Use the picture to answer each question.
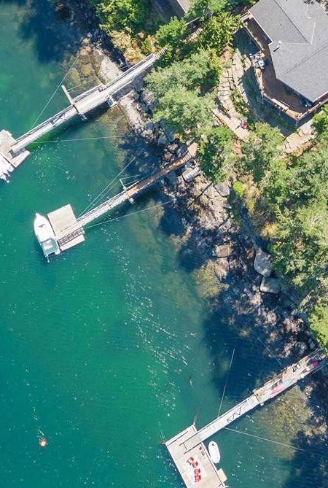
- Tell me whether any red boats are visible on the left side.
No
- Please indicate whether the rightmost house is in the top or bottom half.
top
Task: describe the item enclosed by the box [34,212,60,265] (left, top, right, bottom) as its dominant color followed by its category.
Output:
white boat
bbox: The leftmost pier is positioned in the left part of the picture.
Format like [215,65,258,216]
[0,129,32,168]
